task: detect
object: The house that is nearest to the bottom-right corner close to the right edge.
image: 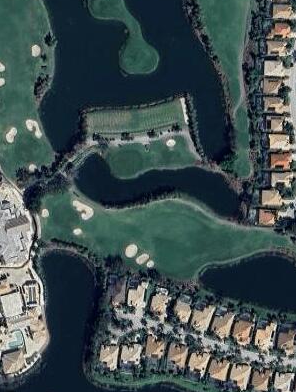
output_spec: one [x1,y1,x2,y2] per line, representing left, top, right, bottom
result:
[275,372,294,392]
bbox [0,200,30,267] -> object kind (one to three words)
building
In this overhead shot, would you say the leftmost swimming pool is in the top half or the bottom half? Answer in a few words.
bottom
